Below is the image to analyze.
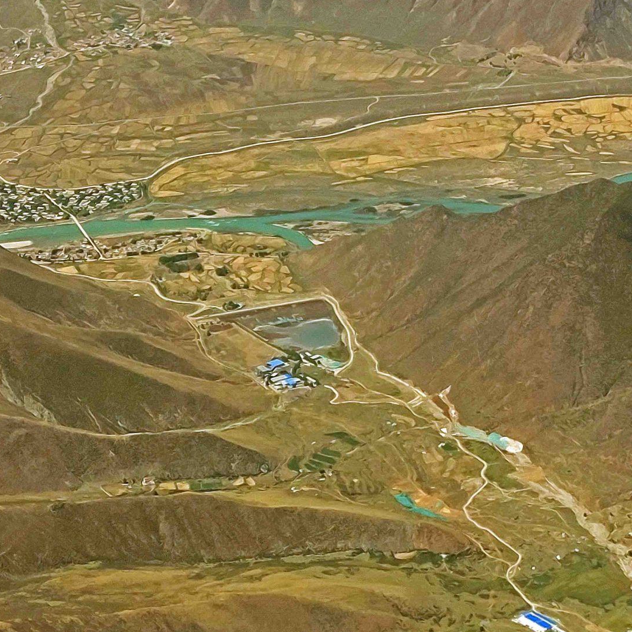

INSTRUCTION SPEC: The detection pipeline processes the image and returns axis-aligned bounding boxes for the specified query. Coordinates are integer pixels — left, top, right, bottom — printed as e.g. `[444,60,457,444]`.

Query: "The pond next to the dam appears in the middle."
[265,318,343,349]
